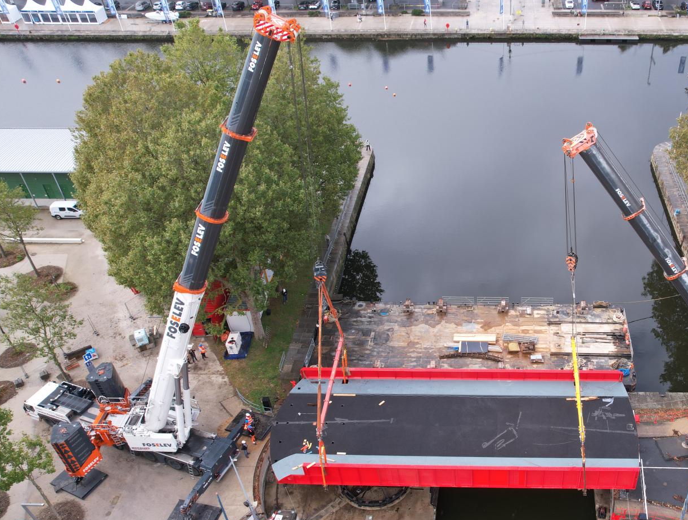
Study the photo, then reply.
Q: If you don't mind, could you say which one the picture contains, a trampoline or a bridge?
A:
bridge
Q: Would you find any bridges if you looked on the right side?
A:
Yes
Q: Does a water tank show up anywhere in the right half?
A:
No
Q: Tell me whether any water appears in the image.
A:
Yes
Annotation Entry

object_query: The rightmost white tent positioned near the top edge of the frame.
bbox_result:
[20,0,109,24]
